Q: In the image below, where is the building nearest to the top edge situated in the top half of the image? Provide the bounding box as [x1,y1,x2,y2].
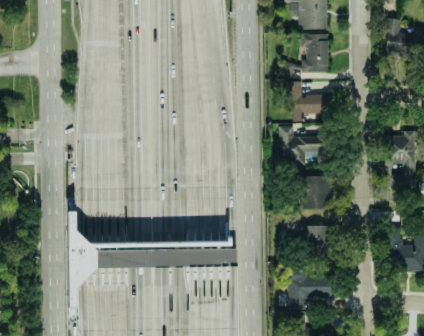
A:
[278,0,328,30]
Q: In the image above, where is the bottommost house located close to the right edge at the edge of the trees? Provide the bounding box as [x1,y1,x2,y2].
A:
[392,225,424,272]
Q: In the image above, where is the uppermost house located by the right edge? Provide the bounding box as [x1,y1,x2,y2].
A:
[388,18,406,52]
